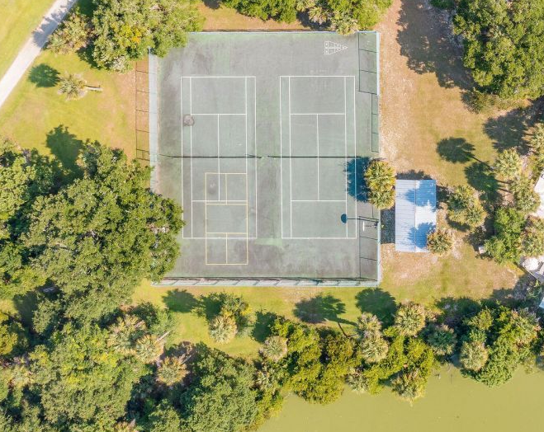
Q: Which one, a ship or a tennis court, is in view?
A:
tennis court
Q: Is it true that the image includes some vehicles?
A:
No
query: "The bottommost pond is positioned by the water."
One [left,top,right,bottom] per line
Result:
[253,363,544,432]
